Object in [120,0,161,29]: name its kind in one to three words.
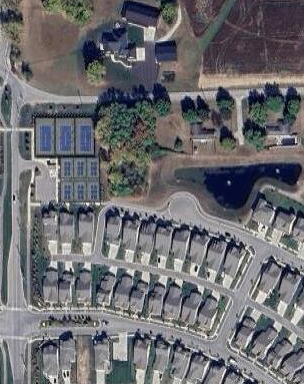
barn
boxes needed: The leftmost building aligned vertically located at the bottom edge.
[42,341,58,373]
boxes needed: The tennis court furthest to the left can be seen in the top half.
[35,118,54,155]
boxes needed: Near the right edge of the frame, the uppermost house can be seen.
[264,122,294,136]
